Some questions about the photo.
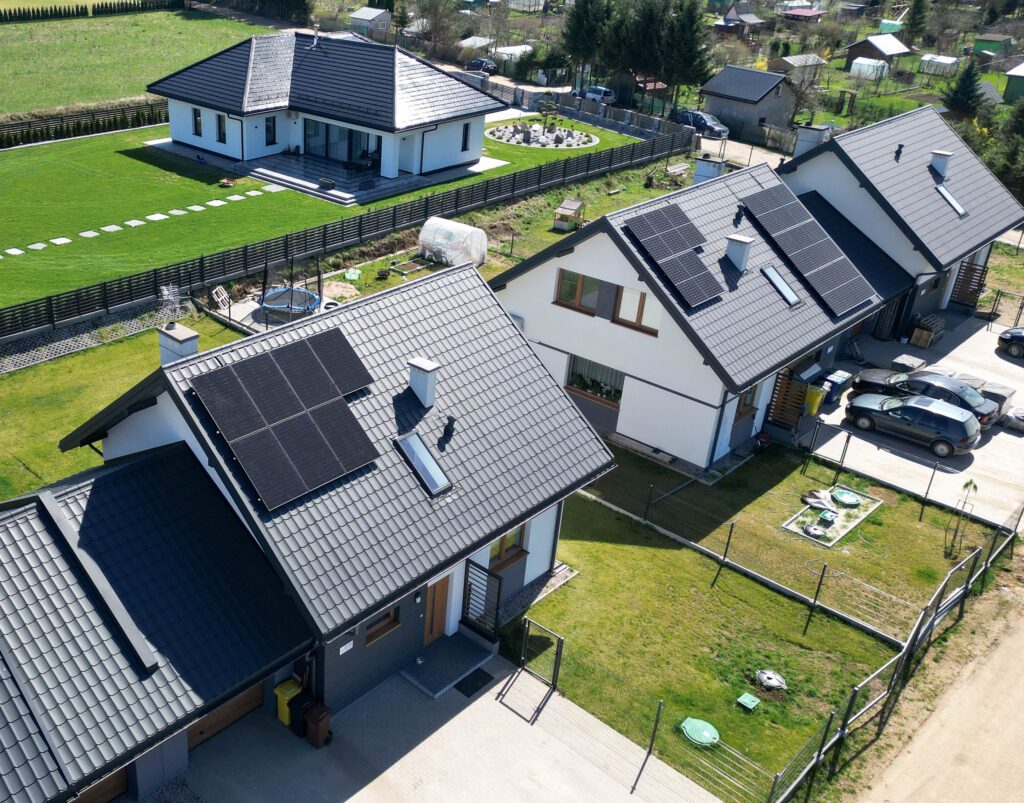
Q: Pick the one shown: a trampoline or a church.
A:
trampoline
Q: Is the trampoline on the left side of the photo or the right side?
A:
left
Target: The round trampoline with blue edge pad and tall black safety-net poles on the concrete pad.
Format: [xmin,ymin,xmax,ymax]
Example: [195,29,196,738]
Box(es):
[255,248,323,325]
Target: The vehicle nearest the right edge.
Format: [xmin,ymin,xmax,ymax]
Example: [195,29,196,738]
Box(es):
[998,319,1024,355]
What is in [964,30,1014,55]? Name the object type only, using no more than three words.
shed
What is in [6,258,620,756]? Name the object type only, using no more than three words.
house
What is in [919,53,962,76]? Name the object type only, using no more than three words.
greenhouse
